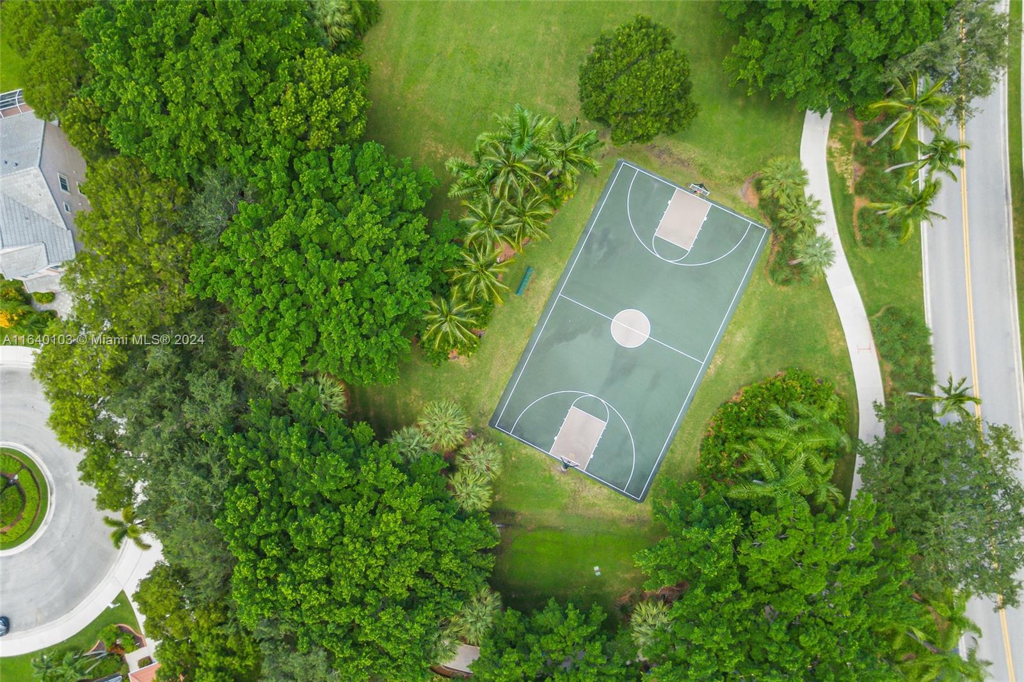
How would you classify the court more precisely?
basketball court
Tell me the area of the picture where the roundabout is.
bottom left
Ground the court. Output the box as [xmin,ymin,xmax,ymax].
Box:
[488,157,771,504]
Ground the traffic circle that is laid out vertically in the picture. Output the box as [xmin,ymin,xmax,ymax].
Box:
[0,443,52,556]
